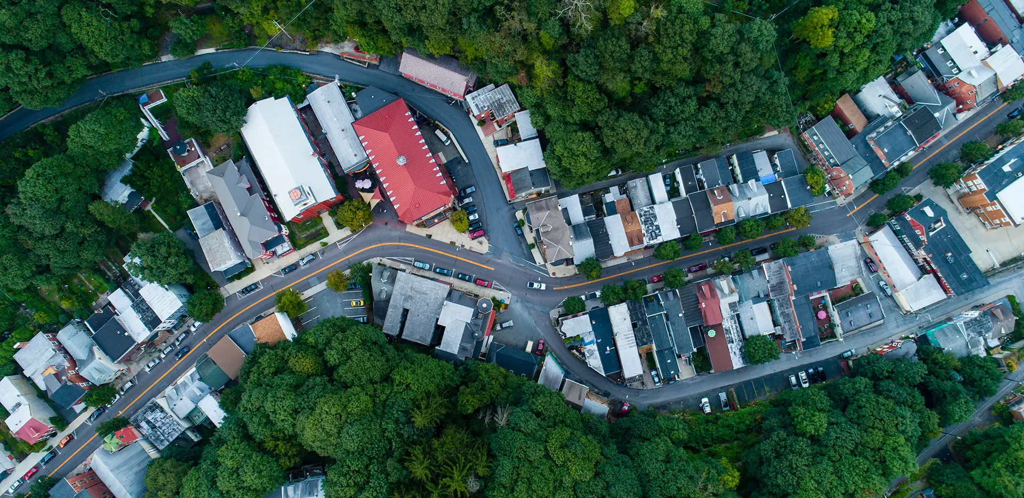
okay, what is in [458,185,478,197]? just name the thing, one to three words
vehicle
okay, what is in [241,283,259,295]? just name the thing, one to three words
vehicle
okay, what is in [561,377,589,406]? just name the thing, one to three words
shed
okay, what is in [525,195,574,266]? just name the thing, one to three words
house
